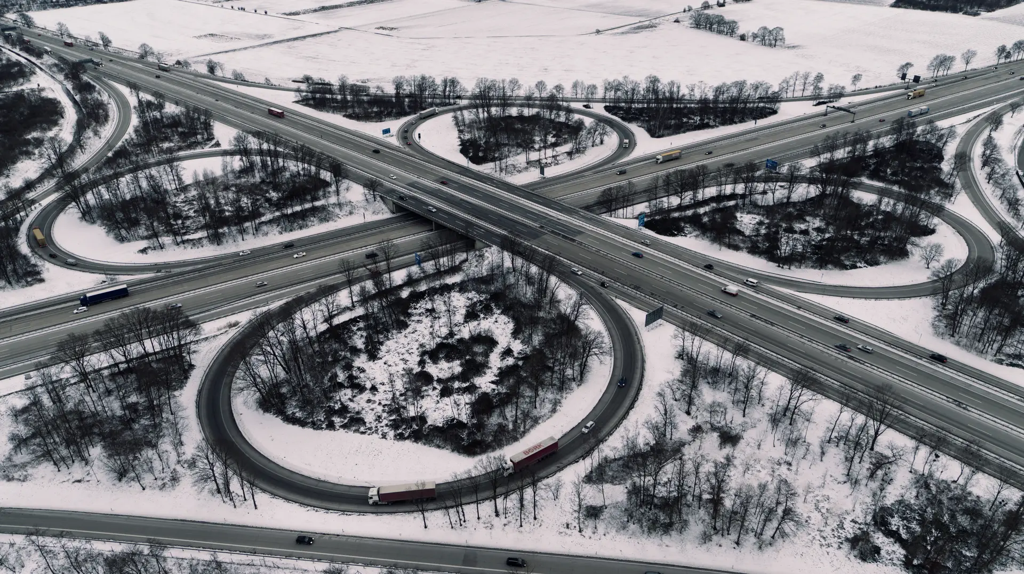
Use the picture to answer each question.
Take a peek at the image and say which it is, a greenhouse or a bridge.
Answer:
bridge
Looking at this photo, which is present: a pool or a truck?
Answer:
truck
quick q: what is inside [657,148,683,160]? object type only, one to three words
vehicle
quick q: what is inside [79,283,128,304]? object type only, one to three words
truck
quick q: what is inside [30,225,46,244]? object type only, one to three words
vehicle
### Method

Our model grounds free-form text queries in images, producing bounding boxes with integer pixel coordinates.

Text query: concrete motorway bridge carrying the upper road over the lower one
[387,172,593,252]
